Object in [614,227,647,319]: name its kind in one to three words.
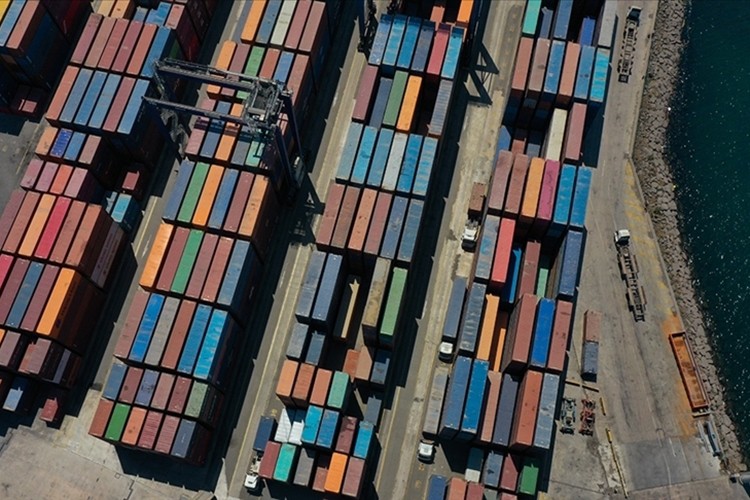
truck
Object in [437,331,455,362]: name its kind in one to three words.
vehicle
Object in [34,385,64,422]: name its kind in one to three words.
shipping container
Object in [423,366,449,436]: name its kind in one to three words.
shipping container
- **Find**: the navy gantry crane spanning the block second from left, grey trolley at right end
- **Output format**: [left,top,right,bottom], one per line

[141,59,311,193]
